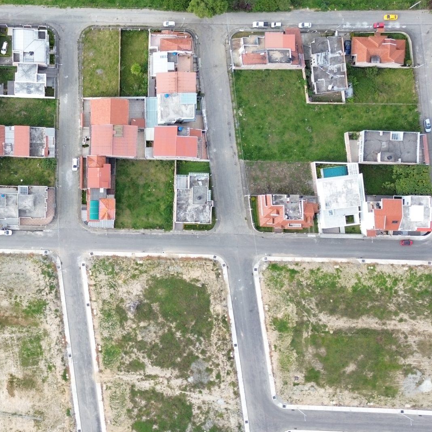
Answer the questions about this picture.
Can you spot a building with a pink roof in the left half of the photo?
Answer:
Yes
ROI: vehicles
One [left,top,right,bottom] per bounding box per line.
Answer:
[384,14,398,20]
[401,239,413,246]
[0,40,8,55]
[272,21,282,28]
[164,20,175,27]
[0,229,12,236]
[299,21,312,28]
[72,157,78,171]
[252,20,268,28]
[344,40,351,56]
[424,119,431,132]
[372,22,385,28]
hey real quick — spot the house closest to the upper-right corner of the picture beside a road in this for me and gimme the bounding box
[350,27,406,66]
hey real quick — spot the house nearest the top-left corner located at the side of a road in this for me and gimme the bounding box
[8,27,49,66]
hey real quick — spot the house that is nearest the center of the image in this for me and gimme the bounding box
[175,173,213,224]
